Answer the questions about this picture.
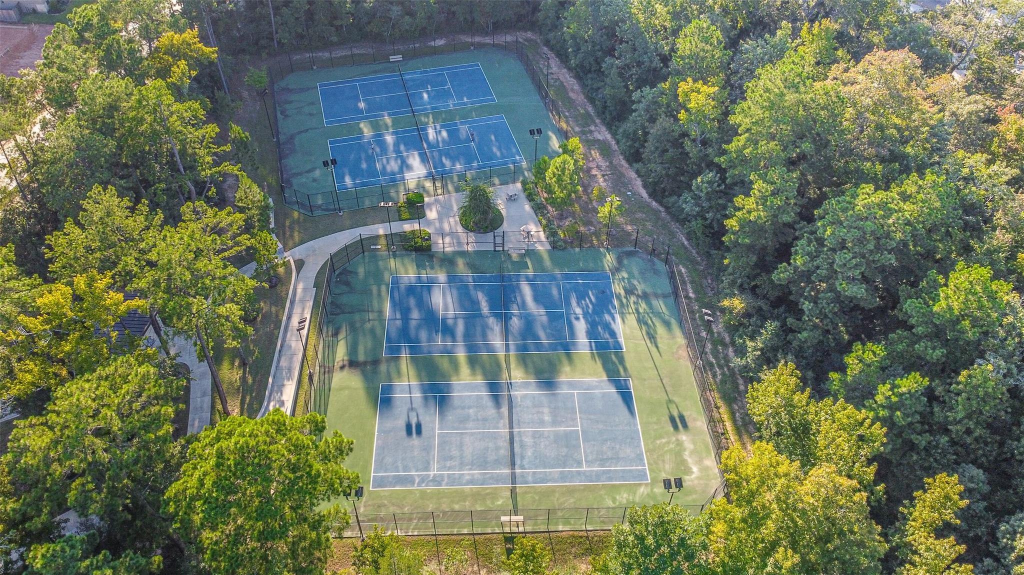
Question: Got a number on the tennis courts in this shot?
4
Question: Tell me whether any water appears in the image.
No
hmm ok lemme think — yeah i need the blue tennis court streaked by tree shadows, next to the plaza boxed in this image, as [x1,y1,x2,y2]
[313,247,694,371]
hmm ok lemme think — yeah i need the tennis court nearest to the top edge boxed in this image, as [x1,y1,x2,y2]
[270,46,544,140]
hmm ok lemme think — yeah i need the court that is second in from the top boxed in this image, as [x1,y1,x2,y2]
[275,102,576,219]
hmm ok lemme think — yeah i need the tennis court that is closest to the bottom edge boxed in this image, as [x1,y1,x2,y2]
[292,363,727,539]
